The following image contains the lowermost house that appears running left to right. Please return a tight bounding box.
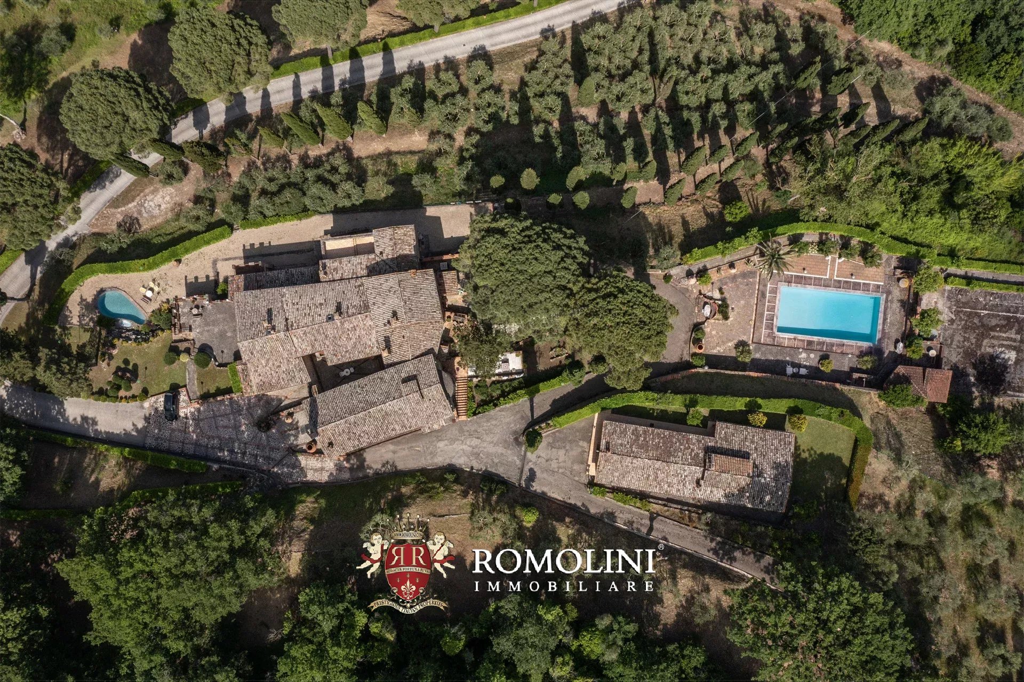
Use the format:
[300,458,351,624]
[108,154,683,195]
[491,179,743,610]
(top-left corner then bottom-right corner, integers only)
[595,420,795,514]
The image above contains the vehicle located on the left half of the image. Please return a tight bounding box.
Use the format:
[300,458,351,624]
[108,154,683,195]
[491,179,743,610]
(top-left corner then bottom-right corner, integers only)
[159,393,177,423]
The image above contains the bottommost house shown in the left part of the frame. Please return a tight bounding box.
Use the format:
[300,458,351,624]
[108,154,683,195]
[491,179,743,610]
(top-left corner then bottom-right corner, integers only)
[302,357,454,458]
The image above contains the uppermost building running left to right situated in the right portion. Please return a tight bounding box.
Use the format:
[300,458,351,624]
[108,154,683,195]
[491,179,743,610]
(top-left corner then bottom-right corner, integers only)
[879,366,953,403]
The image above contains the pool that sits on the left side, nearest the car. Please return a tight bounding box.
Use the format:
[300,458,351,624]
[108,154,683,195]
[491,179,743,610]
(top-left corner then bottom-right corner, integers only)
[96,288,148,324]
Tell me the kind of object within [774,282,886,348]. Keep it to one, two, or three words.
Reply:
swimming pool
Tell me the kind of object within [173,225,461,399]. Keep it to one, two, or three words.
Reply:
house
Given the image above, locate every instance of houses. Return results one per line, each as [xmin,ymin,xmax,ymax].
[173,225,461,399]
[595,420,795,514]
